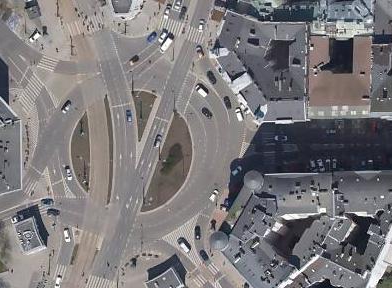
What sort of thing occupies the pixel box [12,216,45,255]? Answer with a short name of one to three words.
building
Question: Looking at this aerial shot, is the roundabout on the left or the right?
left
